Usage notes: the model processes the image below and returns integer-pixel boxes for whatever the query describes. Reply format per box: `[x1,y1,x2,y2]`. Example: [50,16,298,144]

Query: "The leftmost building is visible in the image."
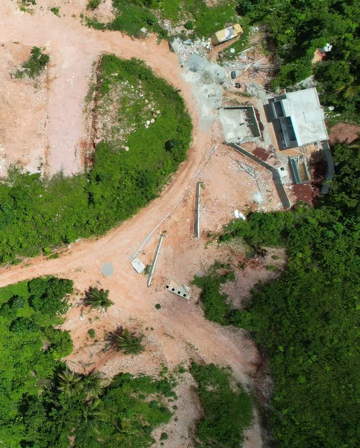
[217,105,262,144]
